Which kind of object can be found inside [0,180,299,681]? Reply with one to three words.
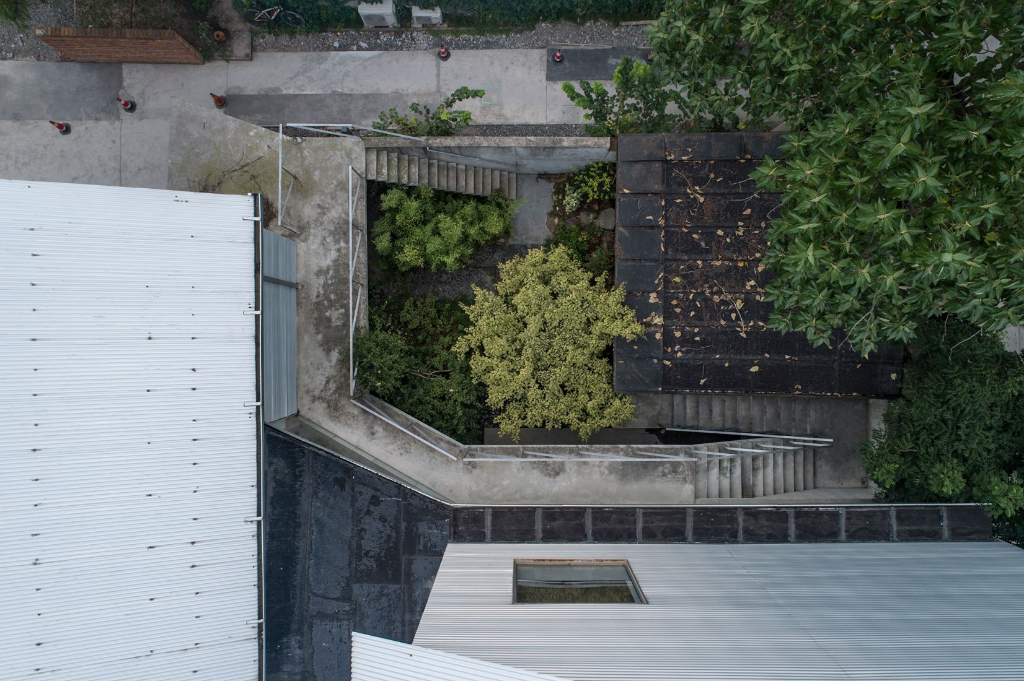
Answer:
warehouse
